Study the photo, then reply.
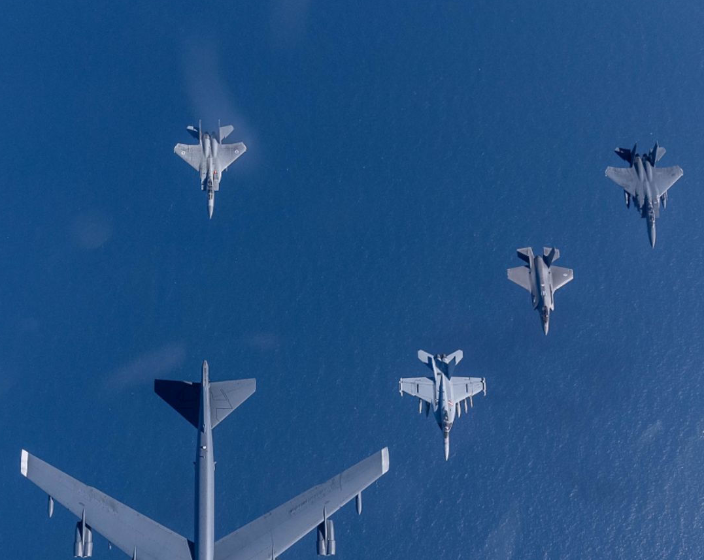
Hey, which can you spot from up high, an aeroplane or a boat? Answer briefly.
aeroplane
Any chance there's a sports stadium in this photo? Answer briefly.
No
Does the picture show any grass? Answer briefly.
No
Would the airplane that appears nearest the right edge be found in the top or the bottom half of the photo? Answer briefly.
top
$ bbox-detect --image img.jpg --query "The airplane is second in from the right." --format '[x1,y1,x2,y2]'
[506,247,574,335]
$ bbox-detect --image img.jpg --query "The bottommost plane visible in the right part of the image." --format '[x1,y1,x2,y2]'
[400,350,485,461]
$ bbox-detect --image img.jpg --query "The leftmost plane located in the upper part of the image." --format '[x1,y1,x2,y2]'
[175,118,246,219]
